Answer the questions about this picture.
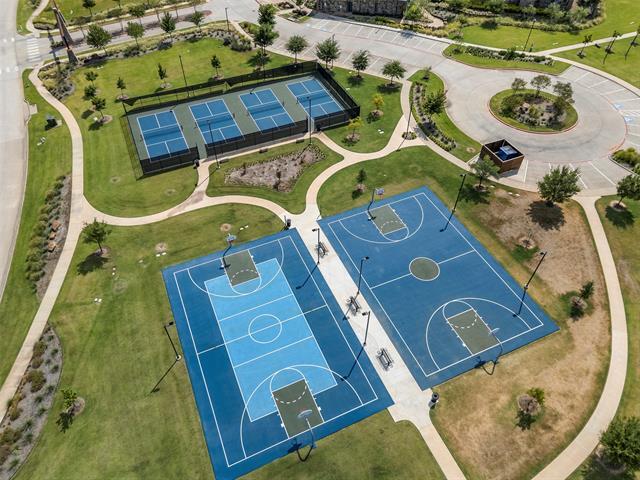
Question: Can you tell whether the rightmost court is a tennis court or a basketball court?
basketball court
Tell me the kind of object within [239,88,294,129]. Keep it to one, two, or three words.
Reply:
sports court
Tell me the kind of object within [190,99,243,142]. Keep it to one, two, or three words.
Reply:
sports court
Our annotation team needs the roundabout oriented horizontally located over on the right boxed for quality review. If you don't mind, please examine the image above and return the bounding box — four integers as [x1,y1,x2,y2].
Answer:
[489,88,578,134]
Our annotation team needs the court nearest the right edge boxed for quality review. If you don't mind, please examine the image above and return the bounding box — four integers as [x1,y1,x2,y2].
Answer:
[319,185,559,390]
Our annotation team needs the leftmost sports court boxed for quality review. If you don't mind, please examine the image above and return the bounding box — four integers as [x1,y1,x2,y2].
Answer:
[138,110,188,157]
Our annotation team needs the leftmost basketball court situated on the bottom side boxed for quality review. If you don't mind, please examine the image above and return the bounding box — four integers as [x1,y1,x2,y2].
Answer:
[162,227,396,480]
